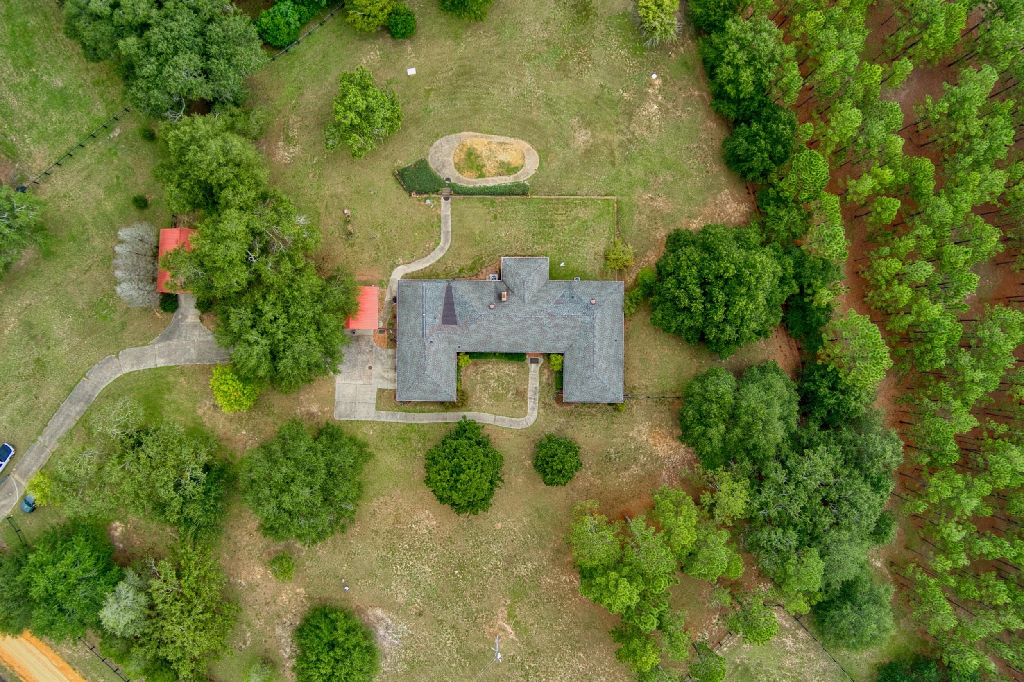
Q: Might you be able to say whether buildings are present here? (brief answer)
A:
Yes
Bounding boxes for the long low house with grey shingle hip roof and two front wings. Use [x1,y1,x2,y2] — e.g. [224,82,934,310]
[396,257,624,403]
